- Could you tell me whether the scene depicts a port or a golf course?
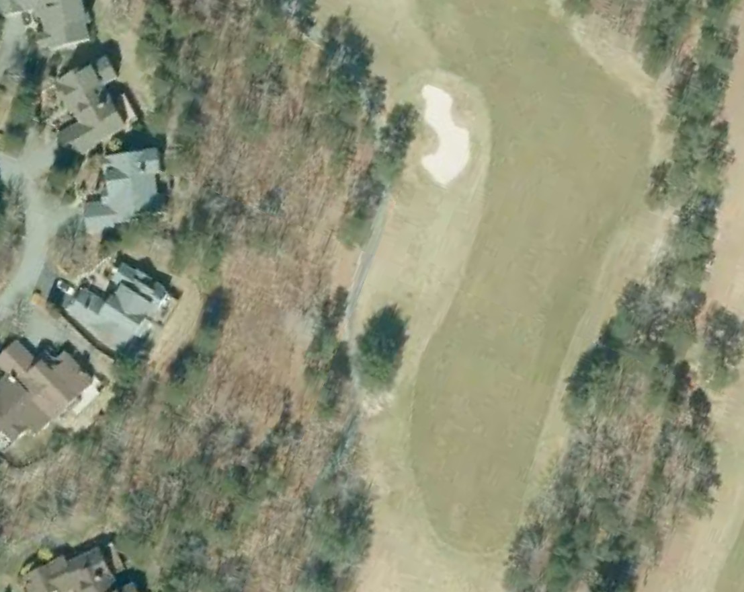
golf course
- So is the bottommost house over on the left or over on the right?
left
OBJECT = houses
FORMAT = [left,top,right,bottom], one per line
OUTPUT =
[68,262,174,347]
[20,543,124,592]
[0,334,103,449]
[82,146,165,238]
[42,55,138,157]
[0,0,90,49]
